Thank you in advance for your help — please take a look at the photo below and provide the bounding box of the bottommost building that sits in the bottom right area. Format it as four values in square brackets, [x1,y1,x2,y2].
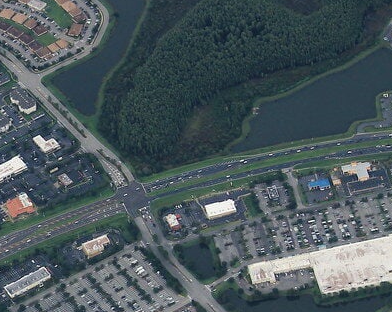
[247,234,392,298]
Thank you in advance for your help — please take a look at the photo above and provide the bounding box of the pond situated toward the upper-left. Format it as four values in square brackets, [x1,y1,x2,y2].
[53,0,148,116]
